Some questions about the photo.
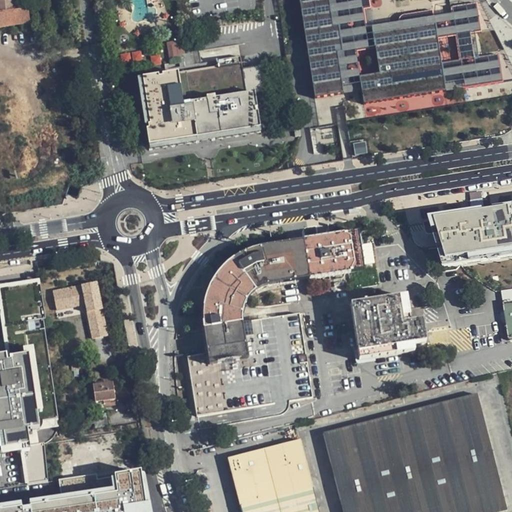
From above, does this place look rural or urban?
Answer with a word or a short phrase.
urban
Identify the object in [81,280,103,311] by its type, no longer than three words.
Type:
house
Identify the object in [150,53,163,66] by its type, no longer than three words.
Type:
umbrella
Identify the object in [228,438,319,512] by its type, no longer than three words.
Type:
building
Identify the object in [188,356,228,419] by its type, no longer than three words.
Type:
building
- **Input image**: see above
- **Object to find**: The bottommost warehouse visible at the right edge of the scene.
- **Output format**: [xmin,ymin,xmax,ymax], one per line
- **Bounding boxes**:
[323,394,508,512]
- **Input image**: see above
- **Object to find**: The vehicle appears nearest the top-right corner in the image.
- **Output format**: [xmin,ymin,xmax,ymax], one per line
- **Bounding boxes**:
[494,2,508,18]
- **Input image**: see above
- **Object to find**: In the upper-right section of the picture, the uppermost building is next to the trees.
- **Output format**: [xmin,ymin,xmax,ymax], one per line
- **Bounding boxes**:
[298,0,512,128]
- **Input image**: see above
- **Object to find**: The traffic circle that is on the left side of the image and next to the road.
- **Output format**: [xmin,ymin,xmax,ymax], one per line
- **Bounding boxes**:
[98,190,164,253]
